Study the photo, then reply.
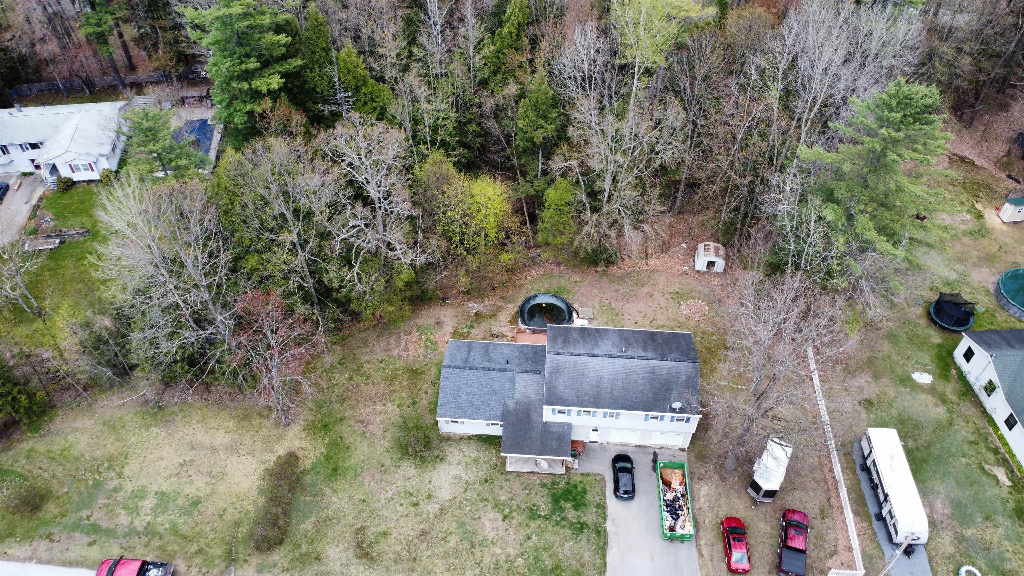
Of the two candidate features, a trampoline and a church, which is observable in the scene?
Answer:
trampoline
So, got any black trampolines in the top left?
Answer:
No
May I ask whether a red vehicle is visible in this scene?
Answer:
Yes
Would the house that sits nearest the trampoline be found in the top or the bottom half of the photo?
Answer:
bottom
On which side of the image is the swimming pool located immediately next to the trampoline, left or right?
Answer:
right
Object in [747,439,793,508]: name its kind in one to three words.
trailer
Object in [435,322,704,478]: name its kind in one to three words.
house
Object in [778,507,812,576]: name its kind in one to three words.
truck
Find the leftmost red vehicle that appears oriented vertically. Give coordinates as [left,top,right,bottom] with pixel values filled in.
[723,516,753,576]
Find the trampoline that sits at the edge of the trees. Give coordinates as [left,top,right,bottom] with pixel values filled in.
[924,287,981,337]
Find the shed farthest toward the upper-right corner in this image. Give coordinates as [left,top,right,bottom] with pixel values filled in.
[985,193,1024,222]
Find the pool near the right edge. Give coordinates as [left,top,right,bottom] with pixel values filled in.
[993,265,1024,330]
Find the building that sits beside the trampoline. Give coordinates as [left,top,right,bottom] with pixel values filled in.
[952,331,1024,459]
